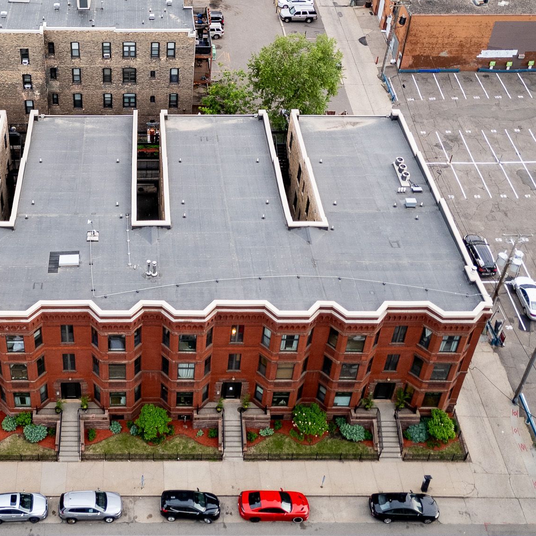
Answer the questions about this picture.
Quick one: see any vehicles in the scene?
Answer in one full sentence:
Yes, there's a vehicle here.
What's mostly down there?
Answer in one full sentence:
For the most part, this view shows buildings.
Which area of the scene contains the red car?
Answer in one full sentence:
Look in the bottom portion of the view to spot the red car.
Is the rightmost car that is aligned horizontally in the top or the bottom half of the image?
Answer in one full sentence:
The rightmost car that is aligned horizontally is in the bottom half of the image.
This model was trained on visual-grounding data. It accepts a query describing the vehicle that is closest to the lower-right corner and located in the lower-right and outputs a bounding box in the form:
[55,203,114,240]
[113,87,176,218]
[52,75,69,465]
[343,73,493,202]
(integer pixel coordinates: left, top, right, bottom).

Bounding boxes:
[362,492,436,527]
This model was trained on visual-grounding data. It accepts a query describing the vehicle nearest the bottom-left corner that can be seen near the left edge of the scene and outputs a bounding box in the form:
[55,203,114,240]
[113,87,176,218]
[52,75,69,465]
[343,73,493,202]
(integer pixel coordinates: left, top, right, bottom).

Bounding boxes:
[0,491,52,527]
